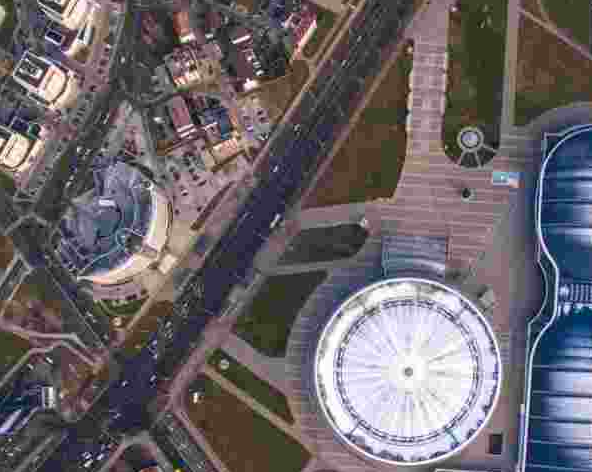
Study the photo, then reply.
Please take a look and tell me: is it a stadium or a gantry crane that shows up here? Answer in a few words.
stadium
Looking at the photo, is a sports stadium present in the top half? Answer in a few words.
No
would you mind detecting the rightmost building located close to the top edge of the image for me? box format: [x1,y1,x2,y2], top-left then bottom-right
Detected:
[284,10,316,52]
